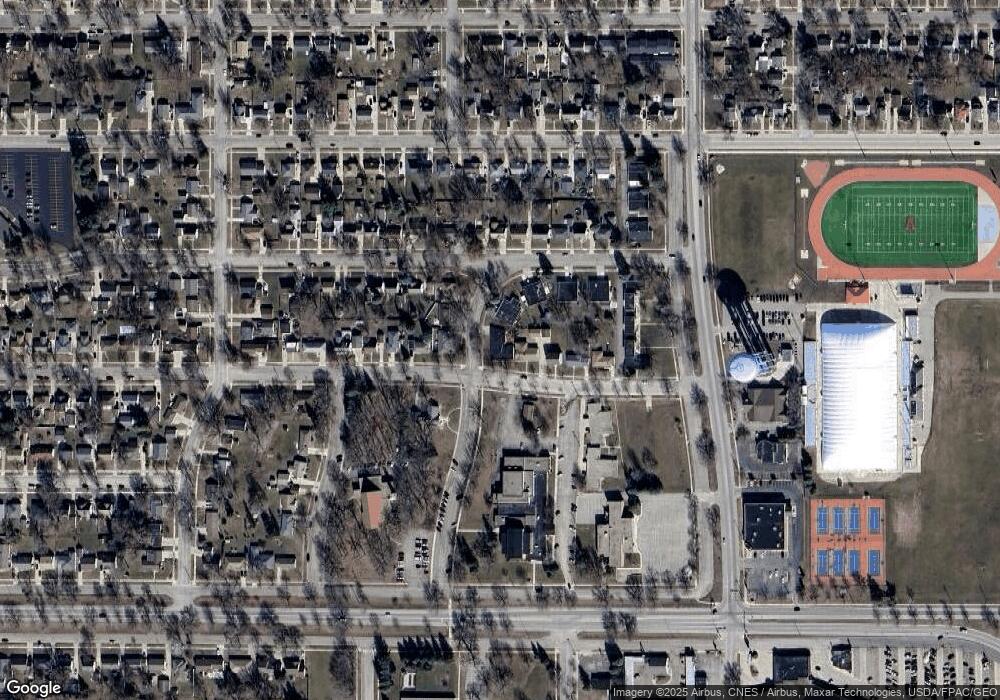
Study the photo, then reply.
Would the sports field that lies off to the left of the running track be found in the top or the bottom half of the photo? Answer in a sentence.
You can find the sports field that lies off to the left of the running track in the top half.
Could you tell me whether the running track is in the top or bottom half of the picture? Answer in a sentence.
Seen from above, the running track lies in the top half of the view.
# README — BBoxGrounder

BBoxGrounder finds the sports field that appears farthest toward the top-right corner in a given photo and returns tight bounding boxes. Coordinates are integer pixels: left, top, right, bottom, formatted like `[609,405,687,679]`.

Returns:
[820,182,1000,266]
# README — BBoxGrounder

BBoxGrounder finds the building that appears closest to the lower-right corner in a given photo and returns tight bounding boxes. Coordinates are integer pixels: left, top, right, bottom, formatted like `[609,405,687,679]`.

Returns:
[830,650,853,669]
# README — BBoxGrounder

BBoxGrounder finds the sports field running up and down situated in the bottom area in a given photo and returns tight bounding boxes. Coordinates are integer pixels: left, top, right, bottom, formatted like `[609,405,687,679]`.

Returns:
[887,299,1000,602]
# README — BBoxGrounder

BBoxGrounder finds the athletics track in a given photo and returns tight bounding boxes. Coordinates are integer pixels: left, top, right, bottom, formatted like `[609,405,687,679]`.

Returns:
[808,168,1000,280]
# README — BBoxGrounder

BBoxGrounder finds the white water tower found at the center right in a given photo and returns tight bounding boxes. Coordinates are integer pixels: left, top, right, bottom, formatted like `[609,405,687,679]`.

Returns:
[728,350,776,382]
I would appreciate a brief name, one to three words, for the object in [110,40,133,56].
house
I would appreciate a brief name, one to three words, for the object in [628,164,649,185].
building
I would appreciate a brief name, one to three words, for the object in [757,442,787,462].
building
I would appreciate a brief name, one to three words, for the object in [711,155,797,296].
sports field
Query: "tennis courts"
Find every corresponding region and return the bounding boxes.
[866,550,880,576]
[815,550,828,576]
[815,508,828,533]
[866,508,880,533]
[848,550,860,576]
[848,508,860,533]
[832,550,844,576]
[832,508,844,533]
